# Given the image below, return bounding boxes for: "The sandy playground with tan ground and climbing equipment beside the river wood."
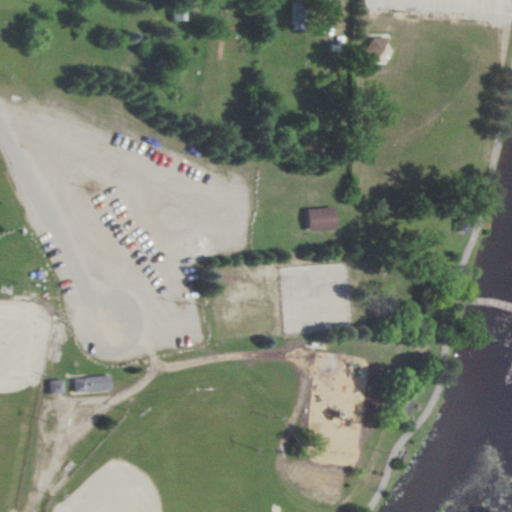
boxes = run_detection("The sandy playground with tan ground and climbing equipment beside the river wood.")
[288,348,368,467]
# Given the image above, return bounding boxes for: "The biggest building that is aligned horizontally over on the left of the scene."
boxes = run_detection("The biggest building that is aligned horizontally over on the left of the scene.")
[76,376,112,392]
